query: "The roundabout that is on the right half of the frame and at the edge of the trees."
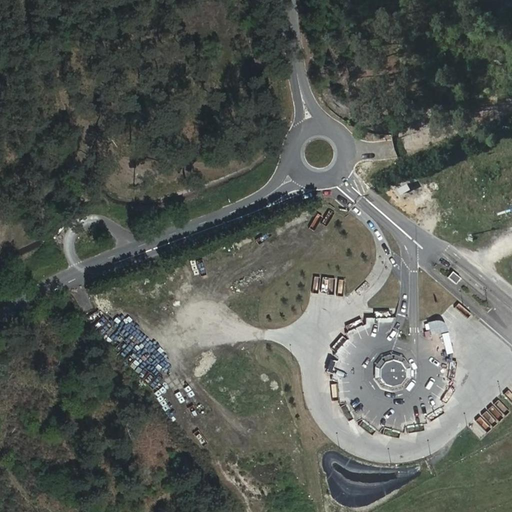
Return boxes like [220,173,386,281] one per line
[272,118,356,192]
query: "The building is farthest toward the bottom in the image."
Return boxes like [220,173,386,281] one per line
[376,353,414,394]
